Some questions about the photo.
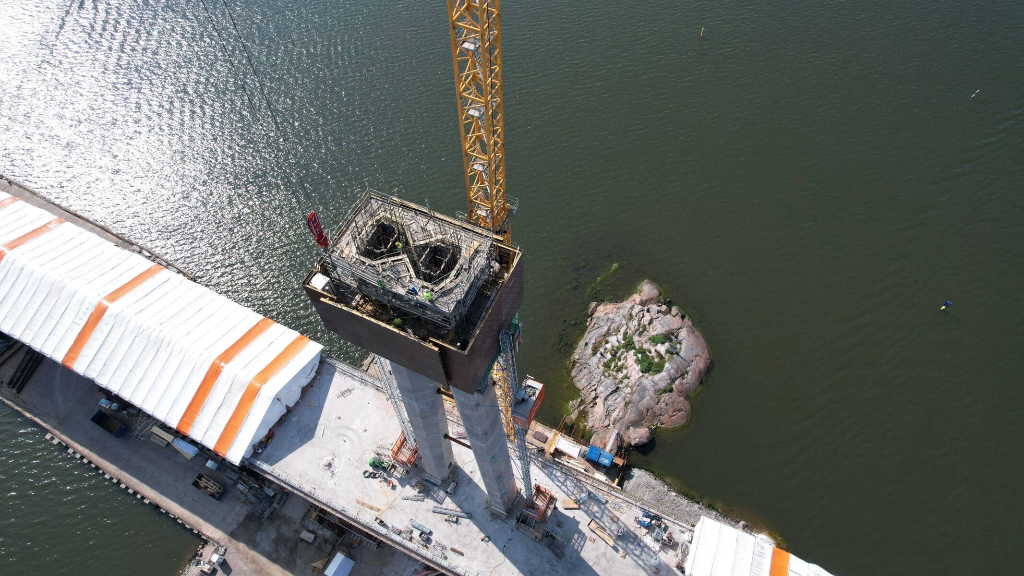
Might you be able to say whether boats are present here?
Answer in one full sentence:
No, no boat is visible in the scene.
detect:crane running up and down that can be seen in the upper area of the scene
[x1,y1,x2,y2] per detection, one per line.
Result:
[445,0,523,445]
